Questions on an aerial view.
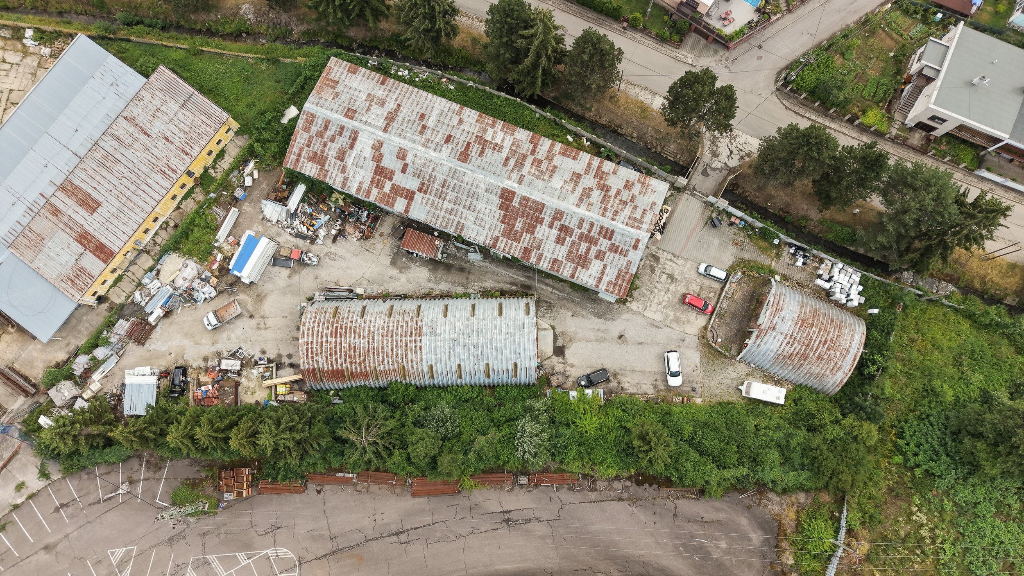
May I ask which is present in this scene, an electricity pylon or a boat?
electricity pylon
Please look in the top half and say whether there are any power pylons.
No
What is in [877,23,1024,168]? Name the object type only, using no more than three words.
house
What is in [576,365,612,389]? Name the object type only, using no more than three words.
car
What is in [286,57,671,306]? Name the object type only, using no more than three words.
building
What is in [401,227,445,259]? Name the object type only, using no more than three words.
shed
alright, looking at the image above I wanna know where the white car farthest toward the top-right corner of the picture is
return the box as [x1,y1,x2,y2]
[694,261,733,285]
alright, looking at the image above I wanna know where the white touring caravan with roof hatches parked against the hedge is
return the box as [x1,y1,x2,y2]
[732,379,789,405]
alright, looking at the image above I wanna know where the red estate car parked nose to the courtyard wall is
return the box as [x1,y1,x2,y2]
[680,291,717,316]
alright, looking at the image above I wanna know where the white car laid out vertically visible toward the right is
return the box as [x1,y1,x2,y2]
[664,349,683,387]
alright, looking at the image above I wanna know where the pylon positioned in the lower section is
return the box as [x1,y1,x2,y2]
[157,497,216,540]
